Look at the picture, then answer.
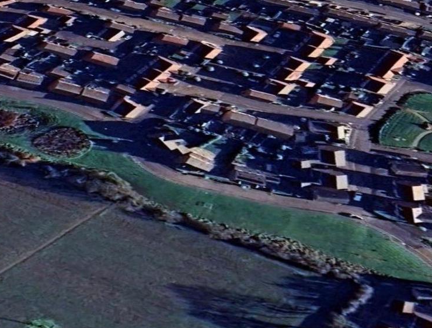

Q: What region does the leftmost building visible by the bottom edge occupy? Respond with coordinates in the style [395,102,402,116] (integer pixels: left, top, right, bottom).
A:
[389,302,415,320]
